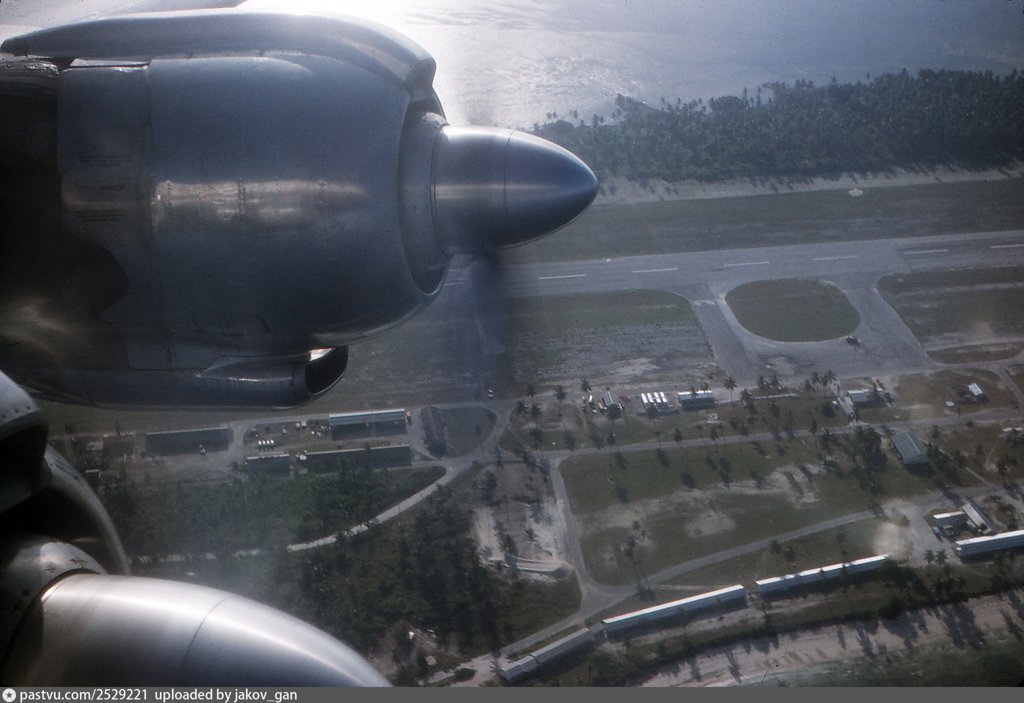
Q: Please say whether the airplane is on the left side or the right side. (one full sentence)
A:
It is on the left.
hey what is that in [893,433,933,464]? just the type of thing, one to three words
building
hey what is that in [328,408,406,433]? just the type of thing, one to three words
hangar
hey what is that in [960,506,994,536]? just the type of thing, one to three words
shed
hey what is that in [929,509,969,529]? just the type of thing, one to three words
building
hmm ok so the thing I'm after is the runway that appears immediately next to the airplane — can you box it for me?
[435,239,918,302]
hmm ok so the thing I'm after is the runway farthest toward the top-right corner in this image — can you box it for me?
[890,230,1024,270]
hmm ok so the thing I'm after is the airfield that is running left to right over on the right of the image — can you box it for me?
[435,230,1024,386]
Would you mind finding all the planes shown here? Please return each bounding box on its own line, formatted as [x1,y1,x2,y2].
[0,0,599,703]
